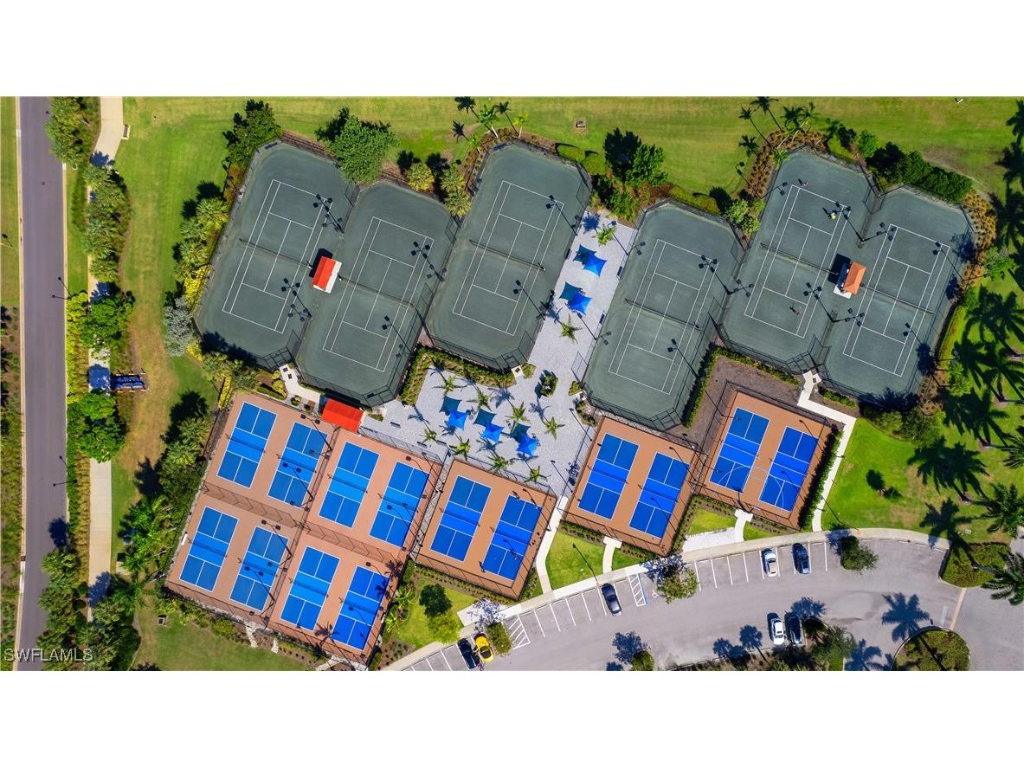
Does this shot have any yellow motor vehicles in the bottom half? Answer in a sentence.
Yes, a yellow motor vehicle can be seen in the bottom half.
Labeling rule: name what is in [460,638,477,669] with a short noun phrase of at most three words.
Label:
car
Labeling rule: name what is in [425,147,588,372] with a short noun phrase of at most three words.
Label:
tennis court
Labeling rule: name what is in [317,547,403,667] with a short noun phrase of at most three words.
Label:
sports court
